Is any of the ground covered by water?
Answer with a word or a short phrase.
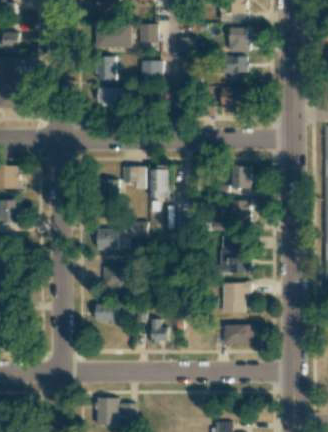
No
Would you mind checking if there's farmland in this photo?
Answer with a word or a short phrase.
No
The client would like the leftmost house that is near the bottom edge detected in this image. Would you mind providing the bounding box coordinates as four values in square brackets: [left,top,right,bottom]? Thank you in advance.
[97,398,139,426]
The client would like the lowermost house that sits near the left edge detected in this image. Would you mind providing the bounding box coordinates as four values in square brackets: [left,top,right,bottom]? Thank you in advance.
[0,200,18,223]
